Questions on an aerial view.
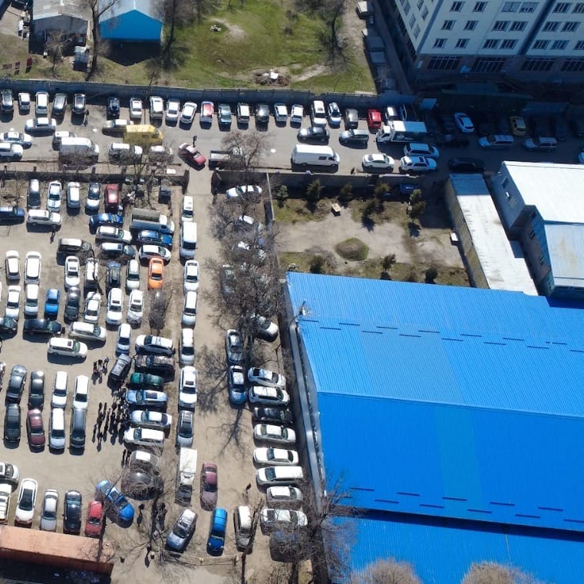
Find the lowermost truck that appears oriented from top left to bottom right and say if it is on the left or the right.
left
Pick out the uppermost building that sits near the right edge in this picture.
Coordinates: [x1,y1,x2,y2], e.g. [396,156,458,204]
[369,0,584,108]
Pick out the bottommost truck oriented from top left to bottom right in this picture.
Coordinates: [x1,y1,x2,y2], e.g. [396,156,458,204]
[94,477,137,526]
